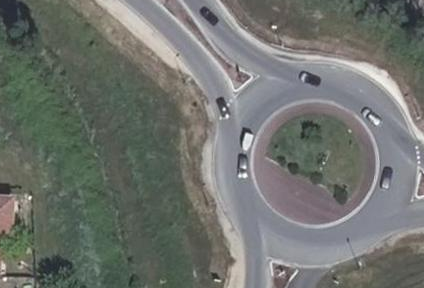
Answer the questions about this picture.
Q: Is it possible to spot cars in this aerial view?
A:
Yes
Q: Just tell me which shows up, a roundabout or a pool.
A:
roundabout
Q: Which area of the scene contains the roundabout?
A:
right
